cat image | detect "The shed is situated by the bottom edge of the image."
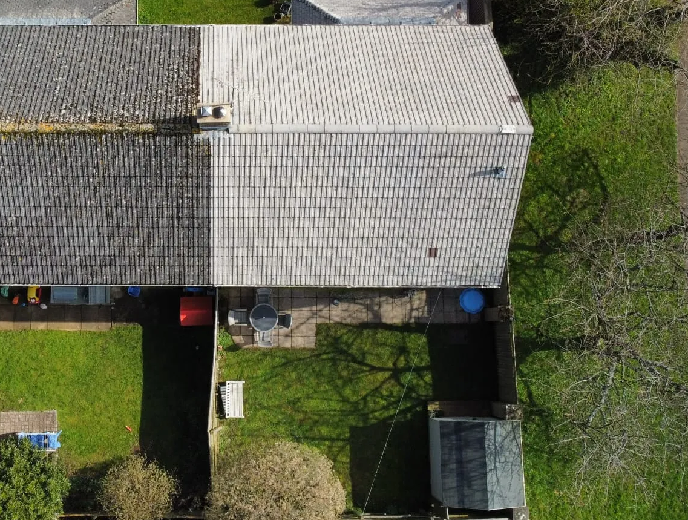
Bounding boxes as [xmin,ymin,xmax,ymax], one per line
[430,416,525,511]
